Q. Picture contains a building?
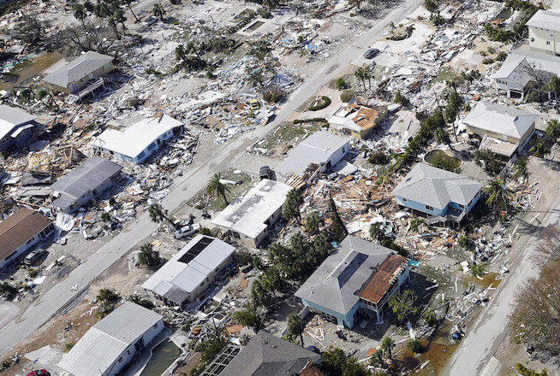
Yes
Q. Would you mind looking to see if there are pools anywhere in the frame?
Yes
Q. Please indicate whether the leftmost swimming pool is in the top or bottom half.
bottom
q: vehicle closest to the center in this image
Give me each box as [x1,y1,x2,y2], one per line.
[259,163,275,179]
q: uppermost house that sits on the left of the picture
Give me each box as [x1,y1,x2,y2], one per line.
[40,51,115,110]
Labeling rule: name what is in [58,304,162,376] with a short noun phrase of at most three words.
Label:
house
